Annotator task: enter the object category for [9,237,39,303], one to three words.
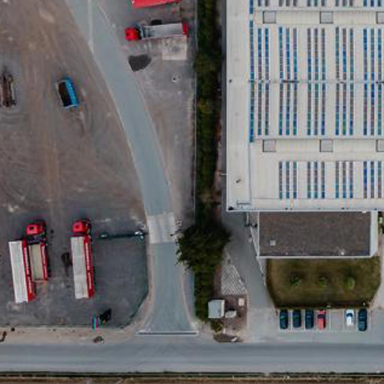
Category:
trailer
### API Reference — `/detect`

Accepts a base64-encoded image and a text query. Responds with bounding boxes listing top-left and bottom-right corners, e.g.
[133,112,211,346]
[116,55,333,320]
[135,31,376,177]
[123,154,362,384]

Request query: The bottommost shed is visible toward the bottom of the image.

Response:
[208,297,227,318]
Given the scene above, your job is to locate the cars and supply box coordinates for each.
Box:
[291,308,302,327]
[347,308,354,327]
[278,308,290,328]
[358,308,368,331]
[303,308,315,328]
[317,309,327,329]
